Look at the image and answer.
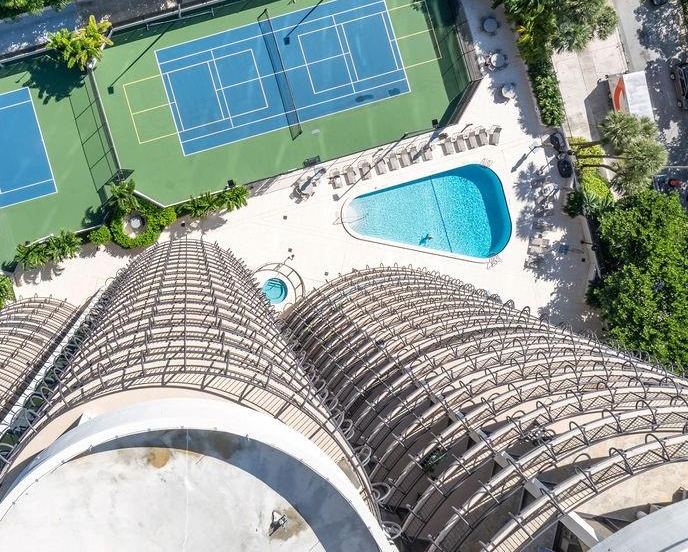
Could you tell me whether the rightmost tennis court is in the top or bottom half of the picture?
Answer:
top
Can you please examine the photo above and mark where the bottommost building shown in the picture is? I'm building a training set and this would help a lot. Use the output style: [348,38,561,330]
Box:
[0,231,688,552]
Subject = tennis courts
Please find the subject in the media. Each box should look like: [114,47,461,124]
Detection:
[92,0,481,206]
[0,44,123,277]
